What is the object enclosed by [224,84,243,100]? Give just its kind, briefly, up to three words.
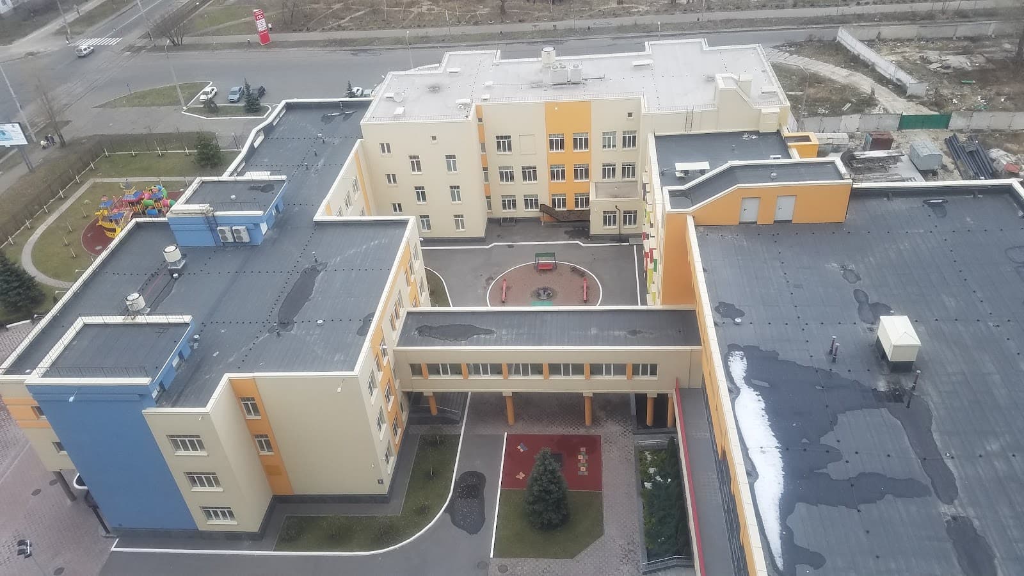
car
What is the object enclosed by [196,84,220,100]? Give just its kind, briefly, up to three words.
car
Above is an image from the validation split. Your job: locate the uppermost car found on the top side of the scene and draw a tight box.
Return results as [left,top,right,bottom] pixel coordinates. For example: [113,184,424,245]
[72,43,94,56]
